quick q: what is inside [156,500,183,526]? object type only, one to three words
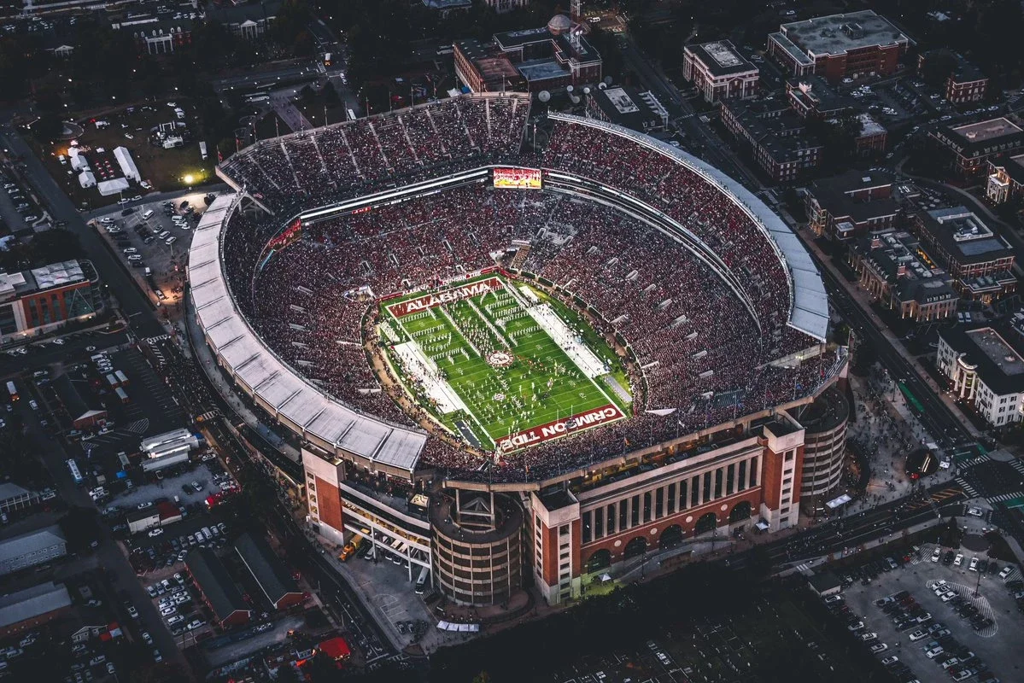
shed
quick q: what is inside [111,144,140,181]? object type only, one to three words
tent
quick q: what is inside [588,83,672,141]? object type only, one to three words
building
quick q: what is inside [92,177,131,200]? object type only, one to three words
tent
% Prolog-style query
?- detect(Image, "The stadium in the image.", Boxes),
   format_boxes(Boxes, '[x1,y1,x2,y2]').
[184,90,855,610]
